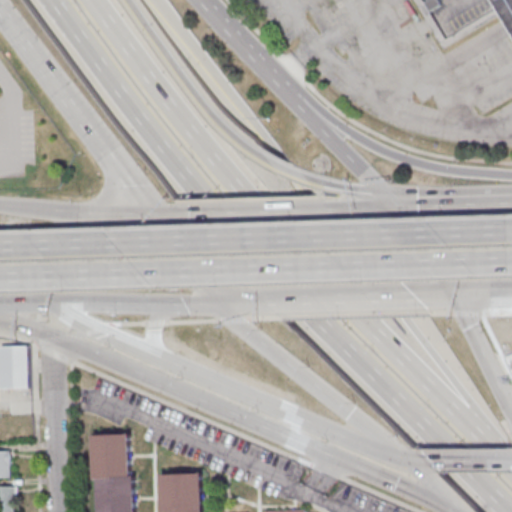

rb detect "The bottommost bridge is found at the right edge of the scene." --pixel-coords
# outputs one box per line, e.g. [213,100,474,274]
[408,447,512,472]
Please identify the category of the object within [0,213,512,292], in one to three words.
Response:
overpass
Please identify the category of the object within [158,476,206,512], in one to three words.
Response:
building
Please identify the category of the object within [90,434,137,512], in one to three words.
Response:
building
